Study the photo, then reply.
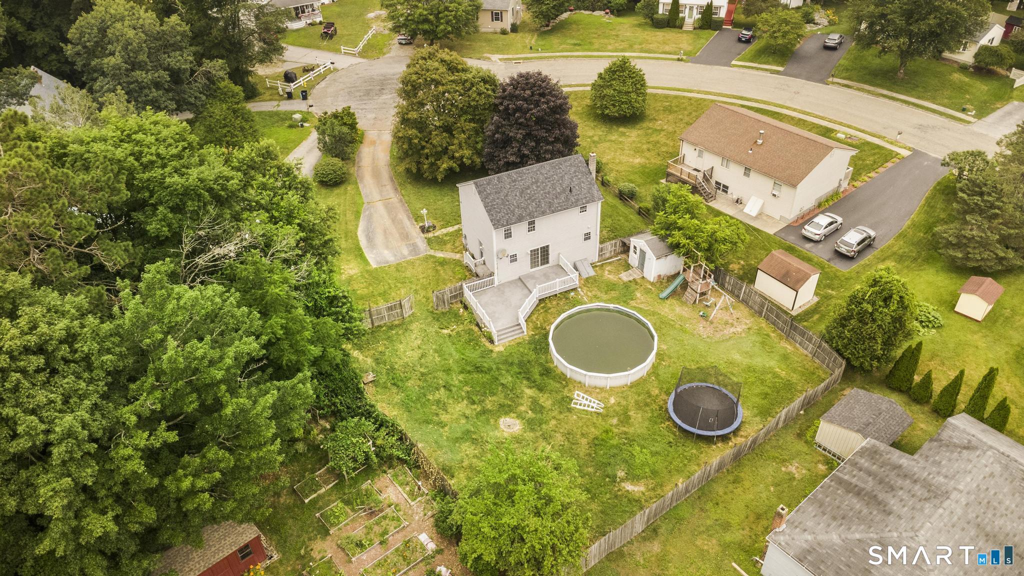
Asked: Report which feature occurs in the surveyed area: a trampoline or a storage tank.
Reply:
trampoline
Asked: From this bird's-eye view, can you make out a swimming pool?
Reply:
Yes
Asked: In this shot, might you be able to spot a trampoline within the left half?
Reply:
No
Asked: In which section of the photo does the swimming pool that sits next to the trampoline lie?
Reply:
center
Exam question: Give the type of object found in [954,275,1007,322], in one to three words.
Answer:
shed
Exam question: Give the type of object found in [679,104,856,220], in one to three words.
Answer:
house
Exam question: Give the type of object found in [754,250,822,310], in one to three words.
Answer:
shed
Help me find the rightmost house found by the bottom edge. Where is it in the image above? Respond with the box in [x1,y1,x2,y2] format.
[759,403,1024,576]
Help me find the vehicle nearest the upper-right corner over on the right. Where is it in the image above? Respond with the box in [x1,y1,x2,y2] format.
[824,31,846,50]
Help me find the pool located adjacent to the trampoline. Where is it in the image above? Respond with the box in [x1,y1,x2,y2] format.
[549,302,661,390]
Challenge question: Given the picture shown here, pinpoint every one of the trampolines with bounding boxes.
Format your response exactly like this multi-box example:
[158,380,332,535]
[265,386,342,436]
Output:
[670,365,746,448]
